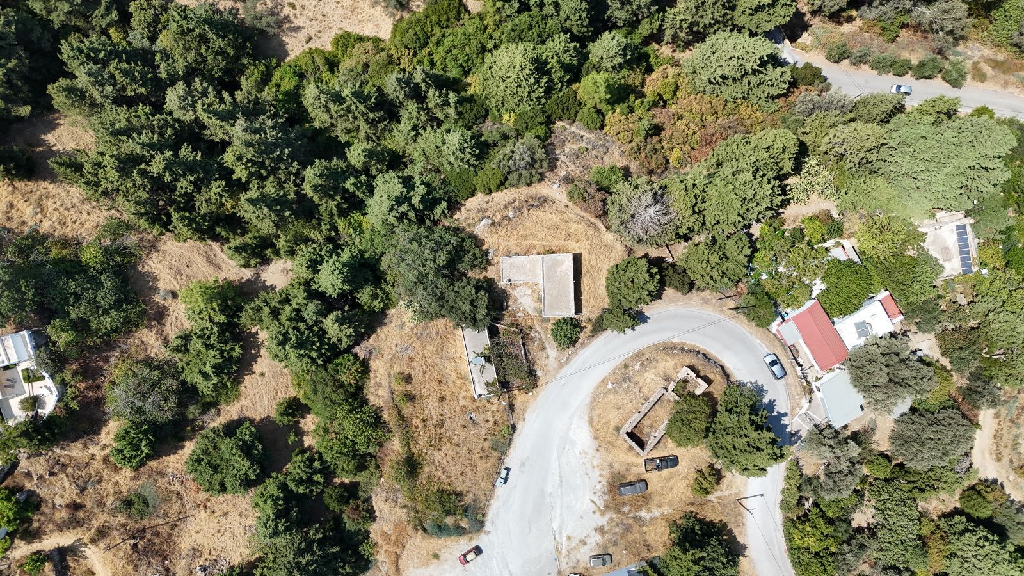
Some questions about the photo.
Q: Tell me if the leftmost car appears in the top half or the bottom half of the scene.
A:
bottom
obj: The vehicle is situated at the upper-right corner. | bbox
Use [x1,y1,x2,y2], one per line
[887,83,912,96]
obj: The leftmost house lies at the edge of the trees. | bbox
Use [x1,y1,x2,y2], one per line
[0,329,48,369]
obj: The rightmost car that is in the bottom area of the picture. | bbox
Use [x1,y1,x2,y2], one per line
[763,352,785,380]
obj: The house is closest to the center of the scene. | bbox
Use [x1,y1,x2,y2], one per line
[501,253,574,317]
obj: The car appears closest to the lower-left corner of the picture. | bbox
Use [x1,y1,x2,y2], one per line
[458,543,484,565]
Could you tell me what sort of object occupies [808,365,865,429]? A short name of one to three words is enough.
house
